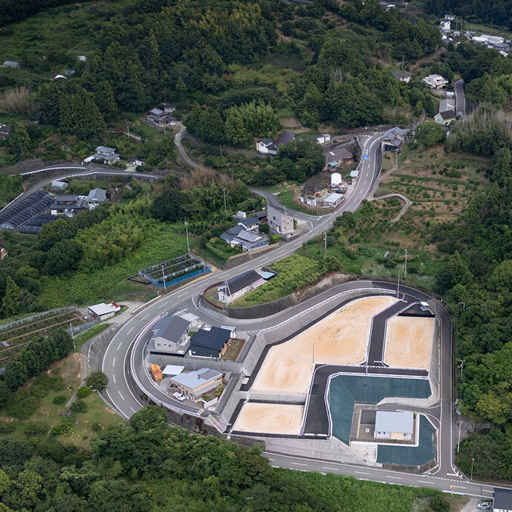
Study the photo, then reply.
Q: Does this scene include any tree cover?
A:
Yes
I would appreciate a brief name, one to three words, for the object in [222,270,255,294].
solar array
